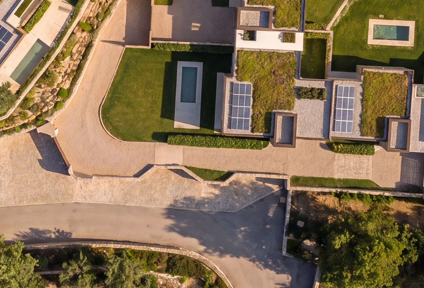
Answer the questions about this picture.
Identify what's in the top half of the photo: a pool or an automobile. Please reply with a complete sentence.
Looking in the top half of the photo, you will find a pool.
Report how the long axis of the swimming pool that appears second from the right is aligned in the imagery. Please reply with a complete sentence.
In this picture, the swimming pool that appears second from the right lies vertically.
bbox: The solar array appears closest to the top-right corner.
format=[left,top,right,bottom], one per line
[335,85,355,132]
